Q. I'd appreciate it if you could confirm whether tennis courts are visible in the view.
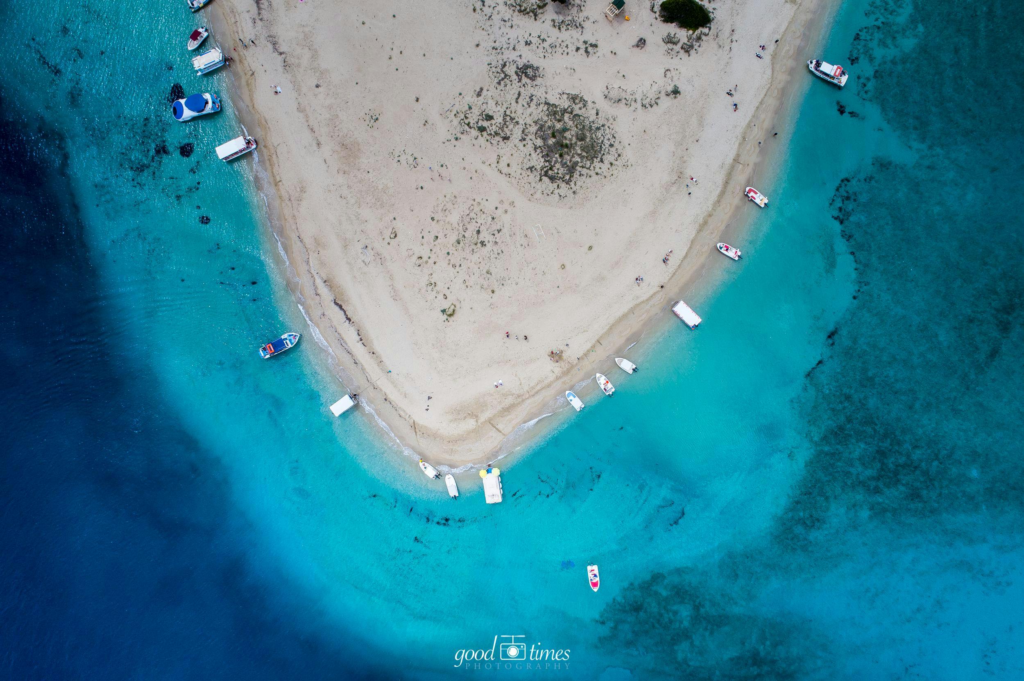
No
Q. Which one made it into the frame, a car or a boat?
boat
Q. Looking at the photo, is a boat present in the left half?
Yes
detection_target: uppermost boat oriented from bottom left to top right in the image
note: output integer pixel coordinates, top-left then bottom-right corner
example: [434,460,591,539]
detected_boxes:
[188,23,213,50]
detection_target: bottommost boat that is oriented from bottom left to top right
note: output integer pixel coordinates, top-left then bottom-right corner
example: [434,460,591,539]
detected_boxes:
[332,393,360,416]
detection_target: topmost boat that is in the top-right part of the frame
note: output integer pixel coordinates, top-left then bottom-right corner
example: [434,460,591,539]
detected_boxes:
[808,60,847,86]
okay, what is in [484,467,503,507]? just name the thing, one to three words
boat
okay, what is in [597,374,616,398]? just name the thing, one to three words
boat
